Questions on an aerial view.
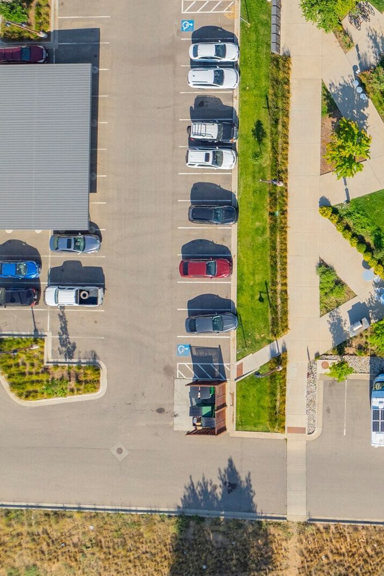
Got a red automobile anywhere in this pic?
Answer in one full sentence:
Yes, this view includes a red automobile.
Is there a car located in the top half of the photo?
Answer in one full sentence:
Yes, you'll find a car in the top half of the photo.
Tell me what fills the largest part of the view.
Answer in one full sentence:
What you mostly see from above here is paved ground.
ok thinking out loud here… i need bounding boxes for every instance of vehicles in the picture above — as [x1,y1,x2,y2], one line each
[186,311,239,335]
[184,146,238,169]
[45,284,107,309]
[0,285,43,308]
[179,256,234,280]
[0,259,45,280]
[50,232,104,255]
[186,65,240,90]
[0,43,50,63]
[188,203,239,225]
[190,40,240,64]
[187,119,239,144]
